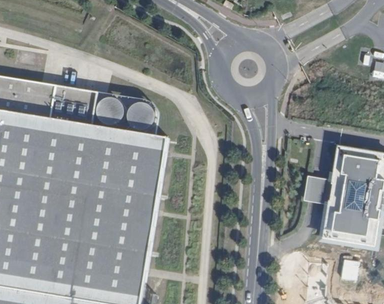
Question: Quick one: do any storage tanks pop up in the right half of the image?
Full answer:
No, there is no storage tank in the right half of the image.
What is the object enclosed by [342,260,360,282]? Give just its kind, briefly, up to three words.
building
